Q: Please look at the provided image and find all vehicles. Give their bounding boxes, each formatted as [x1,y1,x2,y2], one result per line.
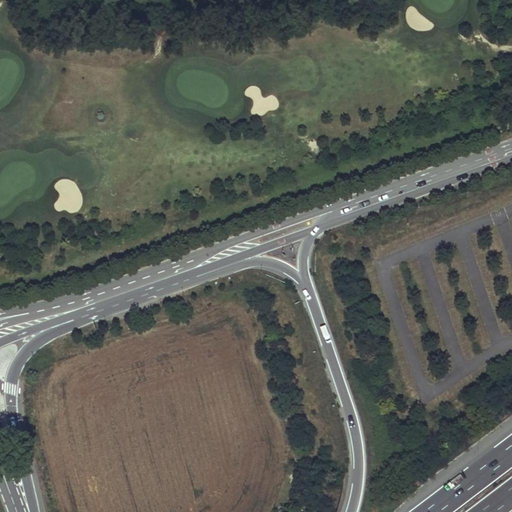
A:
[340,207,351,213]
[454,488,464,496]
[416,180,427,186]
[320,324,330,342]
[310,226,320,236]
[488,458,498,468]
[456,173,468,180]
[378,194,388,200]
[444,472,466,490]
[303,290,310,300]
[360,200,370,206]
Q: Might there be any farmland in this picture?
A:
Yes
